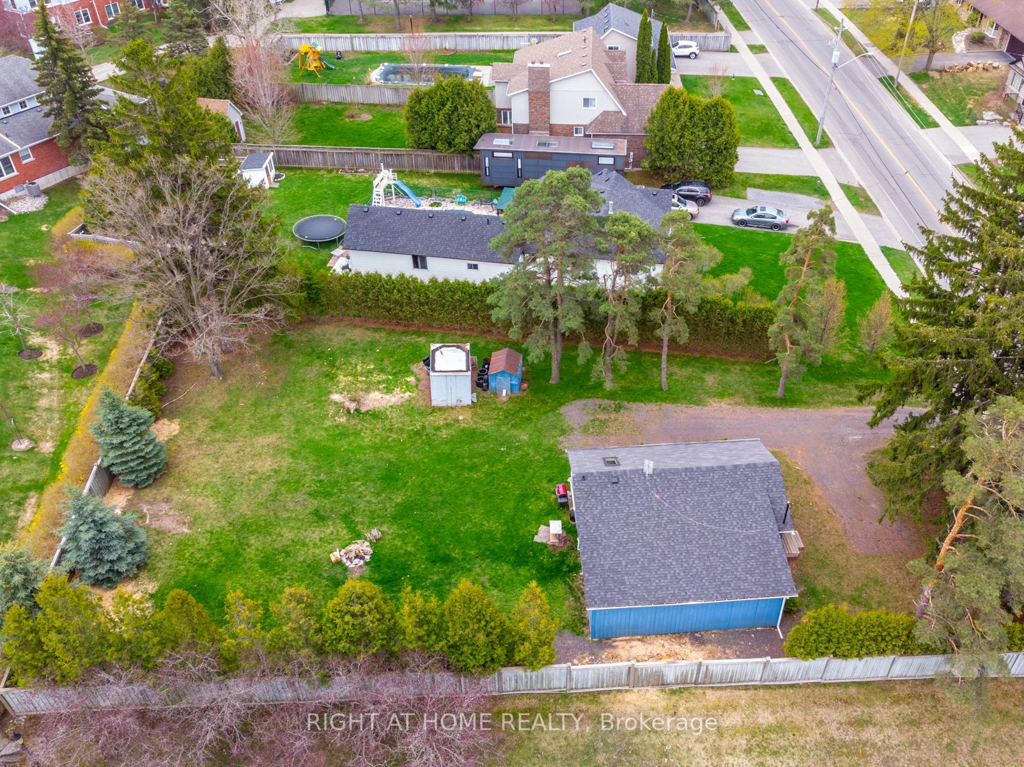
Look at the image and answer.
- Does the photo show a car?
Yes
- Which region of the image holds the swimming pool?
top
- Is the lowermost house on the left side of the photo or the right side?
right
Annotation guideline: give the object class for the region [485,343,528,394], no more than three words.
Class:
shed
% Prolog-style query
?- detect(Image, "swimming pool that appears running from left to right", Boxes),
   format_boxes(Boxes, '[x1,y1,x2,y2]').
[366,64,504,84]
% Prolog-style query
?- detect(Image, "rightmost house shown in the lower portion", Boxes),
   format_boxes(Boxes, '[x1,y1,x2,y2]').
[568,440,801,639]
